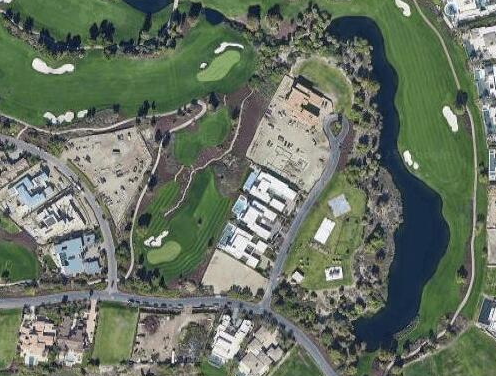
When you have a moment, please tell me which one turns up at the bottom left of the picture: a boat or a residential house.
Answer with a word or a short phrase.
residential house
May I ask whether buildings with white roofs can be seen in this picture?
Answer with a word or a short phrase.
Yes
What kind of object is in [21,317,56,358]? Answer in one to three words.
house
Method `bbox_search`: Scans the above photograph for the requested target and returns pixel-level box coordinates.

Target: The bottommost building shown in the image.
[239,339,285,376]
